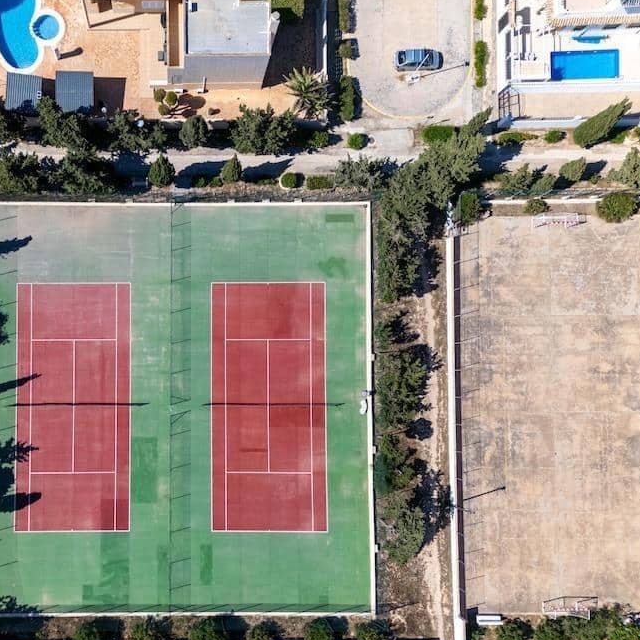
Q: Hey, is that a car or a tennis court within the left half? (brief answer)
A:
tennis court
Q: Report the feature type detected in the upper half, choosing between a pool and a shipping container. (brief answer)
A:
pool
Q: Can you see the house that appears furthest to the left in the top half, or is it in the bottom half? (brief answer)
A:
top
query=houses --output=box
[508,0,640,92]
[84,0,282,92]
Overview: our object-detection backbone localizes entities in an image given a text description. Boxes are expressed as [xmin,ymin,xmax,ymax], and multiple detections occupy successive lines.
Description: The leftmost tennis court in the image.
[0,206,171,611]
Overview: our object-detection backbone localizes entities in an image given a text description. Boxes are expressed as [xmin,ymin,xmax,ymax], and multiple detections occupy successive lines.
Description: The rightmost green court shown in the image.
[171,205,370,611]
